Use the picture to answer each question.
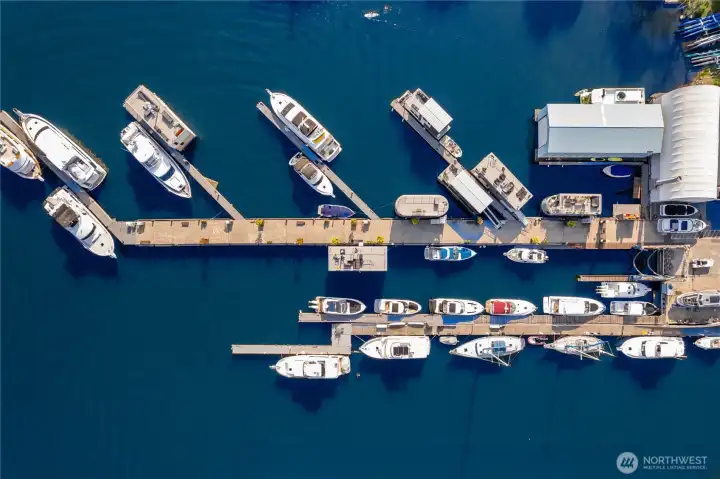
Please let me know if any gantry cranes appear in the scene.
No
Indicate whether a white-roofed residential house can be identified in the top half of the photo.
Yes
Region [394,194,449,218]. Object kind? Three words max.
vessel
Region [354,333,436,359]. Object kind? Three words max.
boat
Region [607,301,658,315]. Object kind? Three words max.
boat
